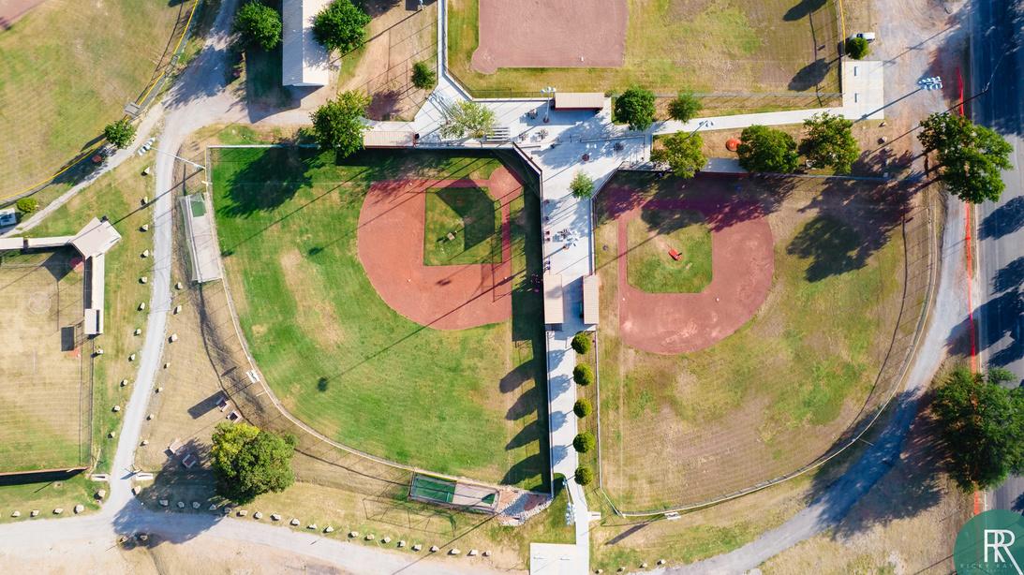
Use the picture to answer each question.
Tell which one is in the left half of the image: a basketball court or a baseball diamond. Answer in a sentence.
The one visible in the left half of the image is a baseball diamond.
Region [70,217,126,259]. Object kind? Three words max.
building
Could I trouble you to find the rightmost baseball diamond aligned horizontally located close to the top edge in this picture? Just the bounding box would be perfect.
[449,0,840,96]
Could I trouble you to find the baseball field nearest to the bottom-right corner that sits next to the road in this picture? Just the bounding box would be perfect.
[596,172,926,511]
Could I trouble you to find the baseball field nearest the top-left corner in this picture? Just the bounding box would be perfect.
[0,0,203,197]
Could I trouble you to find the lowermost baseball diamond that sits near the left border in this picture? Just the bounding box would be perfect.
[0,252,91,471]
